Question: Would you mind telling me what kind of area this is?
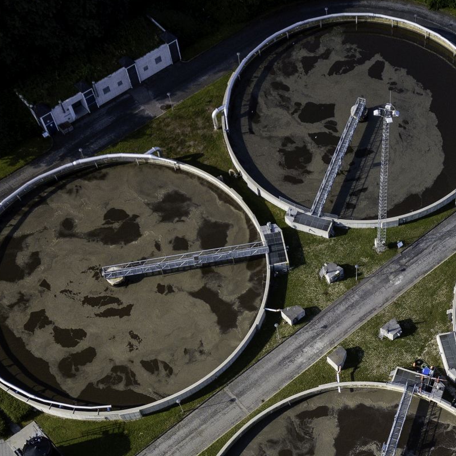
industrial area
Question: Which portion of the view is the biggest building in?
top left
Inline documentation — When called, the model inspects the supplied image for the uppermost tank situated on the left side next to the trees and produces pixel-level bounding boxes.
[0,148,290,421]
